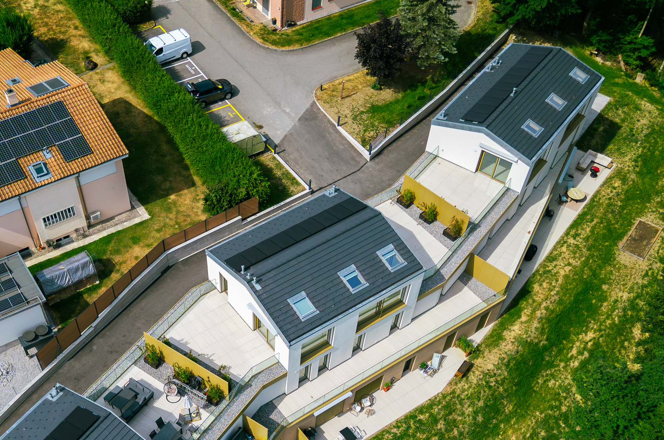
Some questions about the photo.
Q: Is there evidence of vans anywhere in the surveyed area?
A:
Yes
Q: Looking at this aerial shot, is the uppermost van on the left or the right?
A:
left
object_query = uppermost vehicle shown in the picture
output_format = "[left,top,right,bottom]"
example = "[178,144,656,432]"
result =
[149,32,200,64]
